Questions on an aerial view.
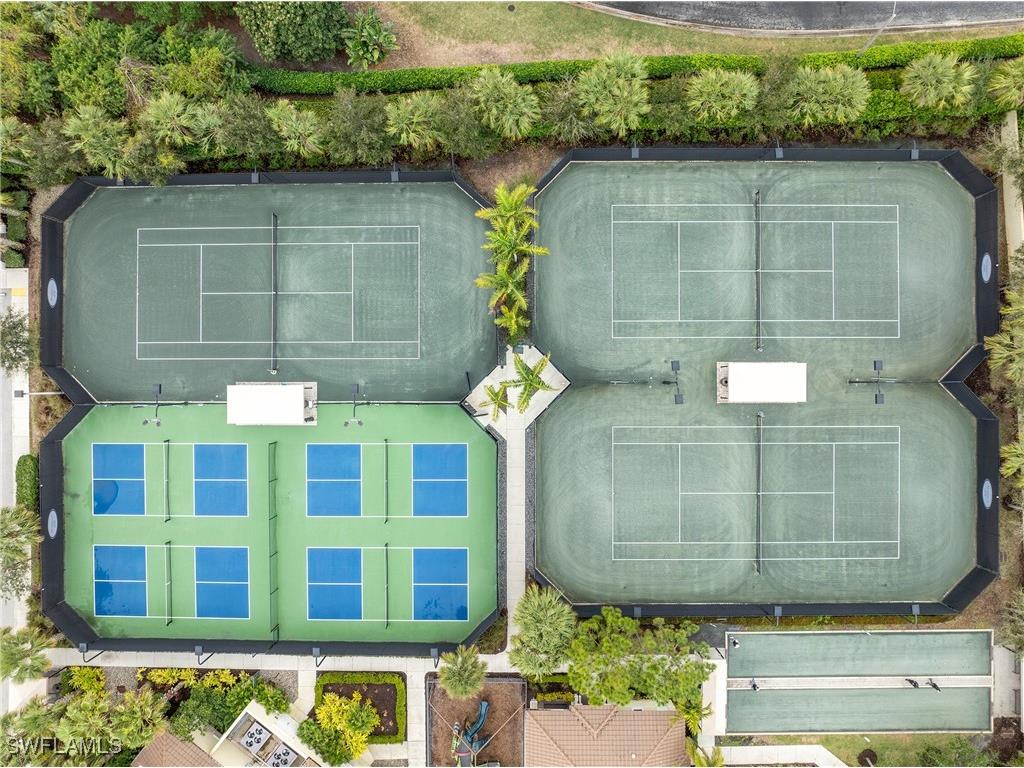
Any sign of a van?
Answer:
No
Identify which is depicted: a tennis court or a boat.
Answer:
tennis court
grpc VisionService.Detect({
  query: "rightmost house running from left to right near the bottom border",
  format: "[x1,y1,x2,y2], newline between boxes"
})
[526,689,690,768]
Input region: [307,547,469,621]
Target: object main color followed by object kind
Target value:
blue sports court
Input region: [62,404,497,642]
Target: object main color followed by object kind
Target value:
green sports court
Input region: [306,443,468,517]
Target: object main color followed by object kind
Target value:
blue sports court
